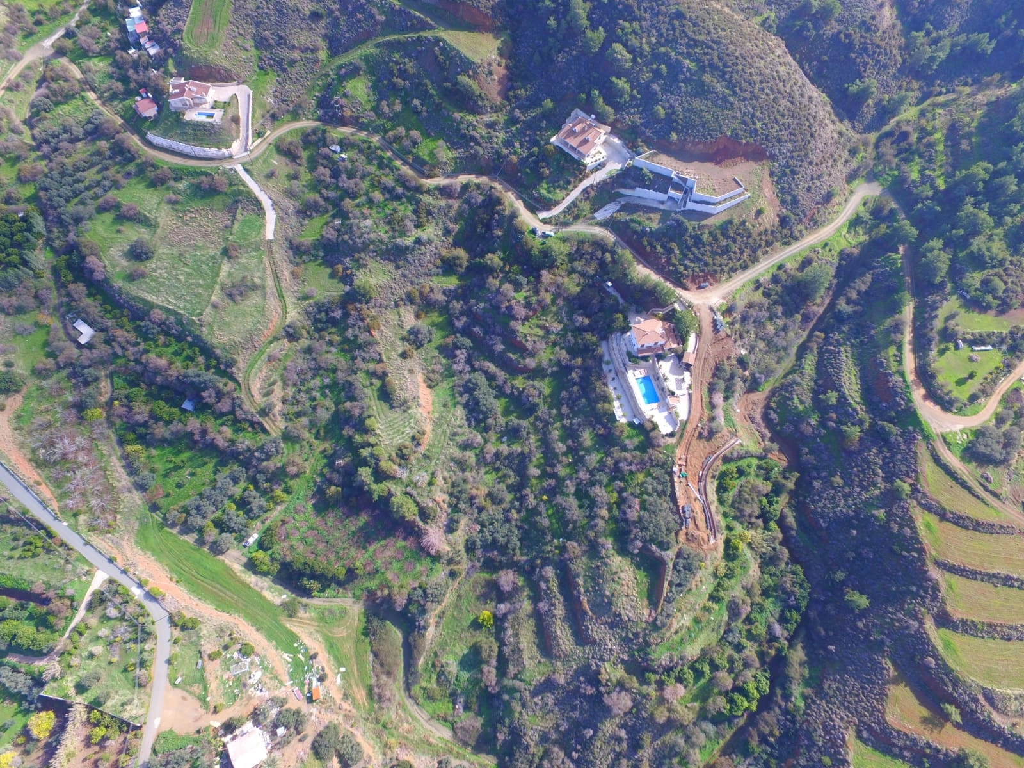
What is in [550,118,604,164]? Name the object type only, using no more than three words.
house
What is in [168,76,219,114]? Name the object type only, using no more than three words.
house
